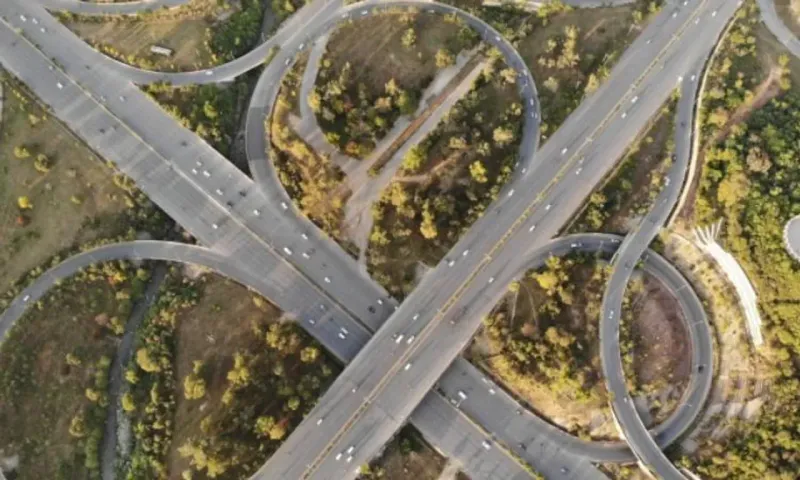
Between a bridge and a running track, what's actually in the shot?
bridge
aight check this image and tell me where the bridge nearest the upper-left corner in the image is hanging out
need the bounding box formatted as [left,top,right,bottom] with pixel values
[217,47,267,80]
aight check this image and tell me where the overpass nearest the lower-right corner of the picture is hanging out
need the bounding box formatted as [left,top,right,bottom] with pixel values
[599,185,688,480]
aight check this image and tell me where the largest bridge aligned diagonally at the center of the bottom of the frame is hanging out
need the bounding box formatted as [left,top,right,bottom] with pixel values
[305,249,505,468]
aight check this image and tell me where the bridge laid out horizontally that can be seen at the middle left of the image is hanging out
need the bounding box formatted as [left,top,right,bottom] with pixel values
[130,241,185,263]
